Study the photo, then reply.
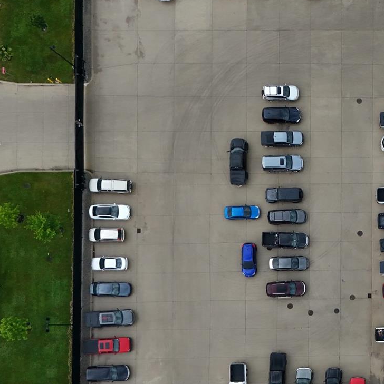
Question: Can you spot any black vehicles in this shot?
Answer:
Yes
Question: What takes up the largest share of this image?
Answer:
paved ground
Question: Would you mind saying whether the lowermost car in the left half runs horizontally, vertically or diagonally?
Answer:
horizontally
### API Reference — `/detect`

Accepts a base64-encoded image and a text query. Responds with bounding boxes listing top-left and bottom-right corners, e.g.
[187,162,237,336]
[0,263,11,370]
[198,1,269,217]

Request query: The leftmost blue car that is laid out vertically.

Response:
[241,243,258,279]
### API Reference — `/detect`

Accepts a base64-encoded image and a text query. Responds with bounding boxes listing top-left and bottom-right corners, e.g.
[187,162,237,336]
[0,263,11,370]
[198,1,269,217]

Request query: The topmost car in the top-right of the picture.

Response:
[260,83,301,102]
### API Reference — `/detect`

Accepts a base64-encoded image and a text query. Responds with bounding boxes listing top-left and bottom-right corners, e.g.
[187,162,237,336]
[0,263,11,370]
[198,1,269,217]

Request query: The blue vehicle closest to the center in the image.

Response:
[224,204,261,222]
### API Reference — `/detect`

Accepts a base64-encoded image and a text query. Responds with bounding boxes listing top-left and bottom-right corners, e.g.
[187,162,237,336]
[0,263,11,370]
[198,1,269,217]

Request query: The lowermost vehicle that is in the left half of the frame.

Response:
[85,363,133,383]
